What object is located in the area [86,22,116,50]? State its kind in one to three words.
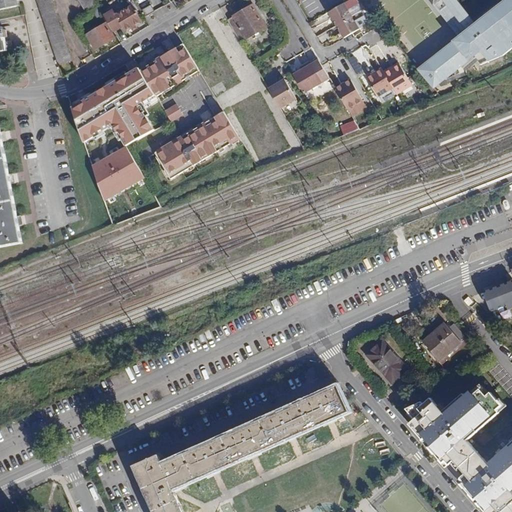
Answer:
house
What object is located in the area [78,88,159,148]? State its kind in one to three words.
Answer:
building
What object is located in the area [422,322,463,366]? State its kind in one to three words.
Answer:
house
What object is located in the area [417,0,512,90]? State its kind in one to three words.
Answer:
building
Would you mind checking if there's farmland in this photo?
No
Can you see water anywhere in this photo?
No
